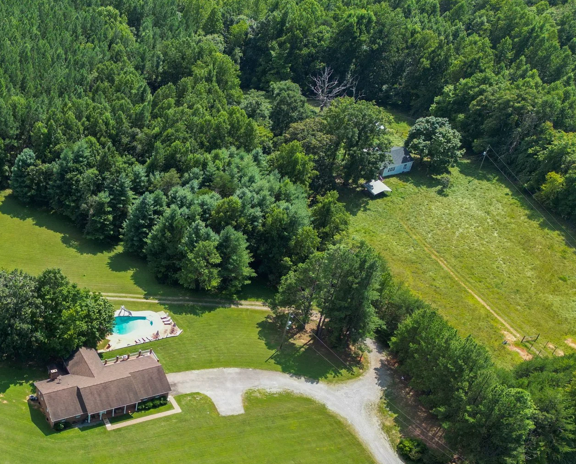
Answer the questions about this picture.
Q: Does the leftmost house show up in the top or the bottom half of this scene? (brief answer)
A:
bottom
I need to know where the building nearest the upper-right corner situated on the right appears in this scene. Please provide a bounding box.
[371,146,414,176]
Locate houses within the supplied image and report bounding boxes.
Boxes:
[34,346,172,431]
[371,146,414,176]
